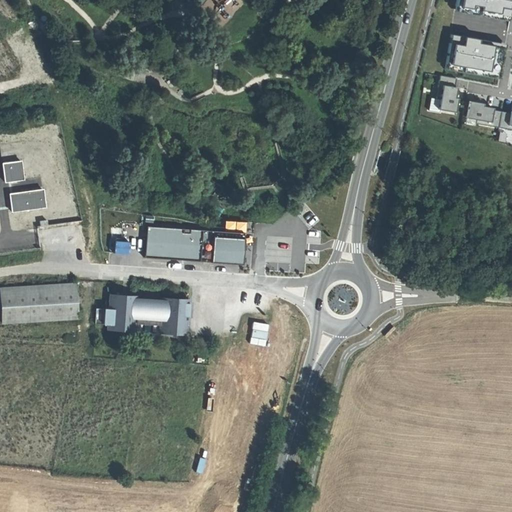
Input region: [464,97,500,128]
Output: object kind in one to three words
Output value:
house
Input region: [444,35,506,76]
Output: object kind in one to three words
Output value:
house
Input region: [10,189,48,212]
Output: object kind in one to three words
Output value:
building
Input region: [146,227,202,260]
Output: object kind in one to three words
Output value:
building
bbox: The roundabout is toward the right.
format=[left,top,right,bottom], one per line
[284,215,418,368]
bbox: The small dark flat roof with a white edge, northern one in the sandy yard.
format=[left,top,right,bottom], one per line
[2,161,26,184]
